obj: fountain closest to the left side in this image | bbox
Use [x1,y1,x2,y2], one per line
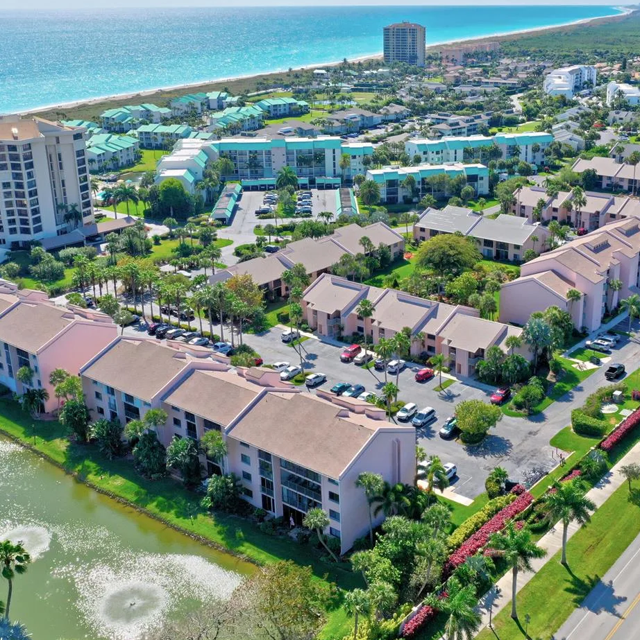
[0,528,61,573]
